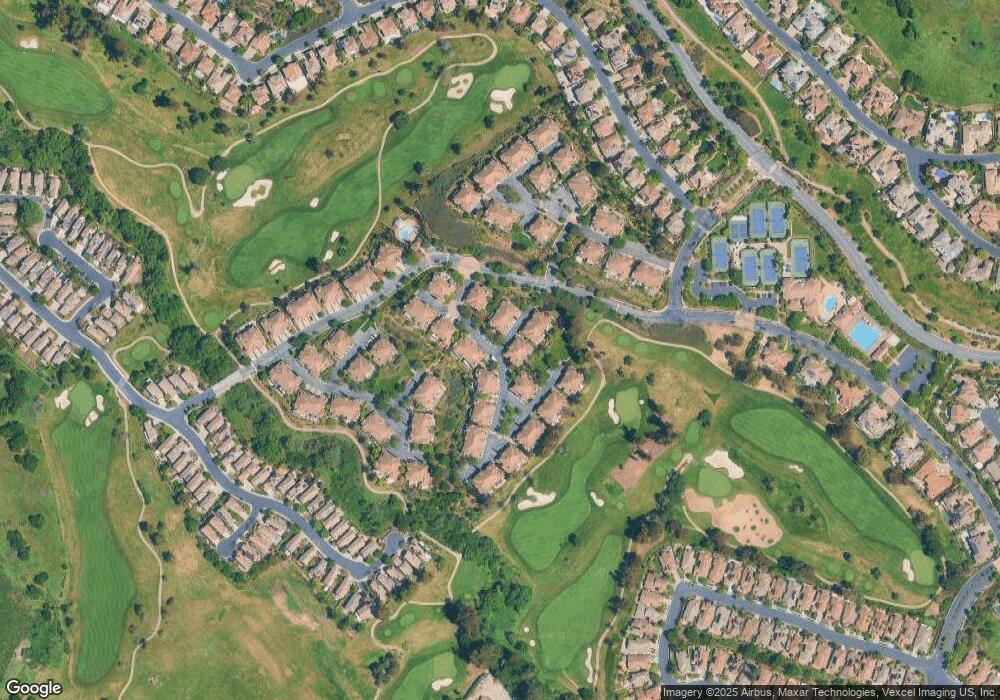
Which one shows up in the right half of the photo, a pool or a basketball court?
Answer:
pool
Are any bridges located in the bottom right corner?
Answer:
No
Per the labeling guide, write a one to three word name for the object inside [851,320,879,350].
swimming pool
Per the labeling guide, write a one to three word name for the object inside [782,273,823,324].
building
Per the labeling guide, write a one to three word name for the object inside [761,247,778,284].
tennis court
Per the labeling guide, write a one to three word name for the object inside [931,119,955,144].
house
